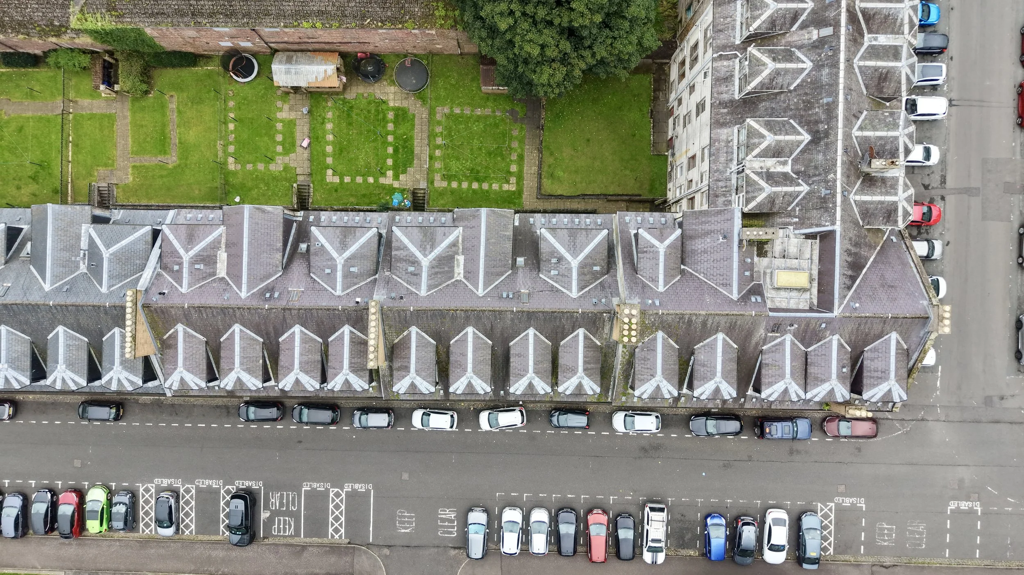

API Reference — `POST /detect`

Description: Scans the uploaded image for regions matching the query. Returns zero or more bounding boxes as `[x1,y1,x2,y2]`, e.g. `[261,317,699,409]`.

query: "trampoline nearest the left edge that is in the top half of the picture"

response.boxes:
[220,46,258,83]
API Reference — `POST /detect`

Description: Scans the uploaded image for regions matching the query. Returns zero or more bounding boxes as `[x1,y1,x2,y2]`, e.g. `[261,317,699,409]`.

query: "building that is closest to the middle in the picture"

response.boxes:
[380,209,619,409]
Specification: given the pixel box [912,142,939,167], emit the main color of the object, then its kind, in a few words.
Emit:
white car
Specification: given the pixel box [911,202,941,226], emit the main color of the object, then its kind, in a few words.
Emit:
red car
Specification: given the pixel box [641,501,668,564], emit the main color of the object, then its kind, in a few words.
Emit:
white truck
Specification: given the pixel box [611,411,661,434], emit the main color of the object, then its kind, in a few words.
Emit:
white car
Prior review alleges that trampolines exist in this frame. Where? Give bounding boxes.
[352,51,390,83]
[220,46,258,83]
[393,57,430,93]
